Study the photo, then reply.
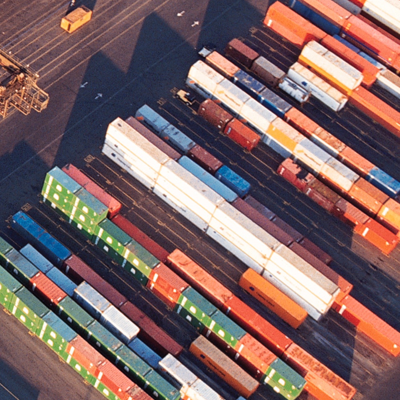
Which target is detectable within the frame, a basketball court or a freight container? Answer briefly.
freight container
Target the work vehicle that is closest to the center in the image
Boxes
[174,81,202,106]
